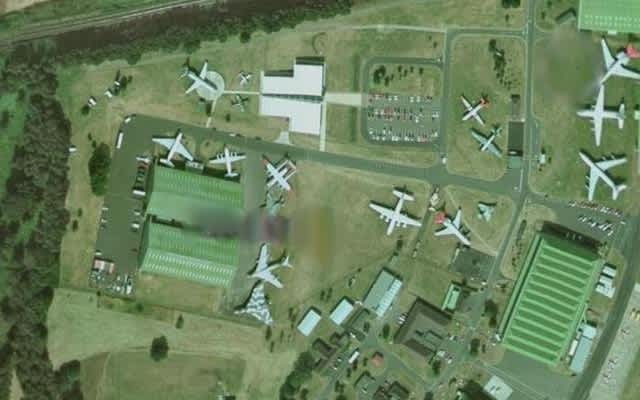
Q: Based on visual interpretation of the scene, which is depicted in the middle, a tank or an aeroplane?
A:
aeroplane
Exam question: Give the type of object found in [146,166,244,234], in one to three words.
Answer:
hangar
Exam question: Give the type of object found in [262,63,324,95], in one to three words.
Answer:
building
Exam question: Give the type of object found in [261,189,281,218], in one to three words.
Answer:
airplane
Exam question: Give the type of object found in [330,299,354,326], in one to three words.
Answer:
shed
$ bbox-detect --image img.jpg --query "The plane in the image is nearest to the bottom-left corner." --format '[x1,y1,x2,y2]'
[234,279,272,320]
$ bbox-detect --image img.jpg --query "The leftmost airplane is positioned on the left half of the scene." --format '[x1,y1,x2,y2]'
[151,132,195,165]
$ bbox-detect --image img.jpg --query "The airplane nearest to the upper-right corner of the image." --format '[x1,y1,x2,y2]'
[601,37,640,83]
